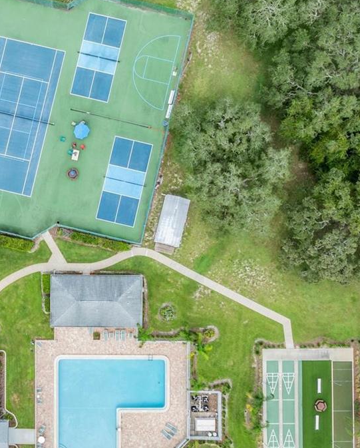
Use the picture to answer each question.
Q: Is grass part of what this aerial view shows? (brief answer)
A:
Yes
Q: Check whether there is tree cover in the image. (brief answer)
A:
Yes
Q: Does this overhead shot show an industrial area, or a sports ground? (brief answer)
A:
sports ground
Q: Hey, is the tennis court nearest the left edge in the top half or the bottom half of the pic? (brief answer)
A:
top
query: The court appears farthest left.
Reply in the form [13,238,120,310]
[0,36,65,195]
